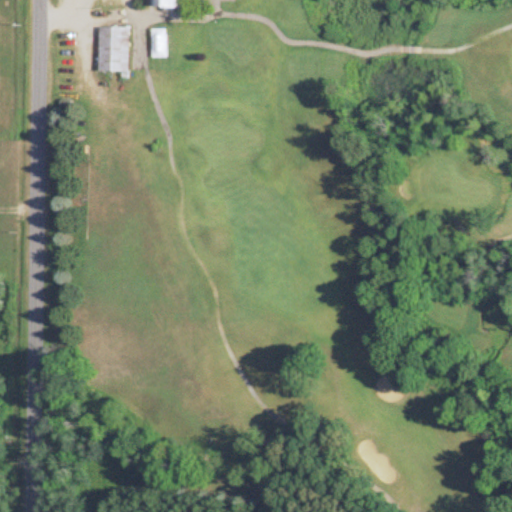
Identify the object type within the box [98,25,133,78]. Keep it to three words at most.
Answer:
building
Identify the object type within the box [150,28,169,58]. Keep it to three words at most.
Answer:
building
